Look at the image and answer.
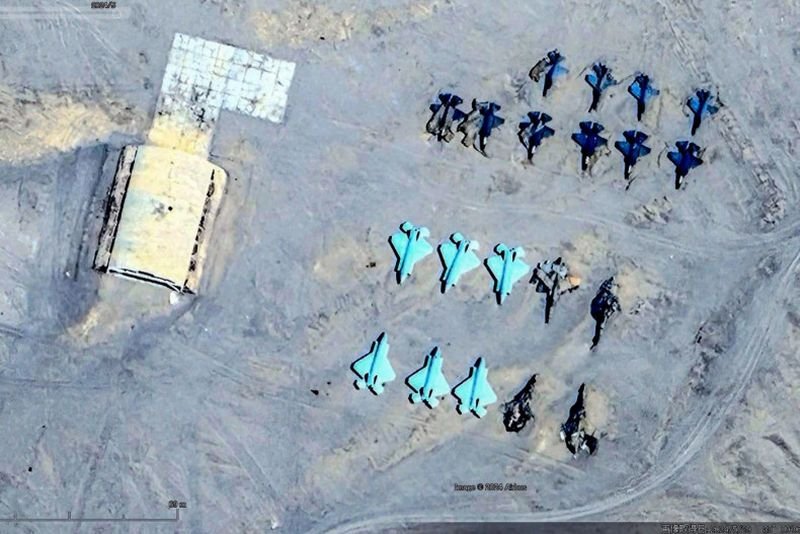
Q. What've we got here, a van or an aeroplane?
aeroplane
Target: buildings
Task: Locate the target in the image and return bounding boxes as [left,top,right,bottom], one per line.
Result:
[92,144,227,294]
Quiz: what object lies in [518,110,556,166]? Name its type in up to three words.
airplane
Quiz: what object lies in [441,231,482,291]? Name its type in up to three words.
airplane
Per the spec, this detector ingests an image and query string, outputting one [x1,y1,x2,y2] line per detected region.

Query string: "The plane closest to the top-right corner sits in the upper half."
[684,87,723,134]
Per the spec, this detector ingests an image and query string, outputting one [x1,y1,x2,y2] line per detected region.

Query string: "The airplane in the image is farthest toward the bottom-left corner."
[352,333,395,393]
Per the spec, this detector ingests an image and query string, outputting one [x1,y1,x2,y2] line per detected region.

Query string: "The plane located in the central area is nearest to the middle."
[392,221,434,282]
